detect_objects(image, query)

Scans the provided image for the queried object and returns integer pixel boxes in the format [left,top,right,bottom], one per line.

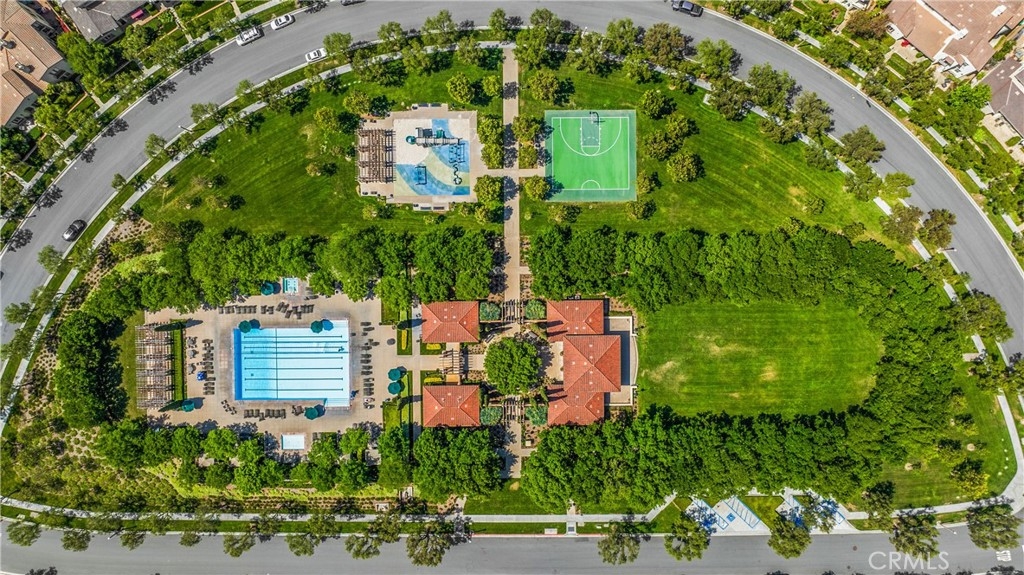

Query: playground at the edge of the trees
[360,104,477,211]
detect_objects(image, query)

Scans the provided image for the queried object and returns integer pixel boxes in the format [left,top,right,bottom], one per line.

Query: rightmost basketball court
[546,110,636,201]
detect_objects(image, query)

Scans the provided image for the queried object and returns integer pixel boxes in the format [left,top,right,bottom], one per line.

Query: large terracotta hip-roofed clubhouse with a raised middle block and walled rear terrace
[547,294,639,426]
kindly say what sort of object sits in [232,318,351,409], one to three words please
swimming pool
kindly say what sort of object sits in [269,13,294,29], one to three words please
car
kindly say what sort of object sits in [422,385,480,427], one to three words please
building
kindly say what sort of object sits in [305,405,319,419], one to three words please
umbrella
